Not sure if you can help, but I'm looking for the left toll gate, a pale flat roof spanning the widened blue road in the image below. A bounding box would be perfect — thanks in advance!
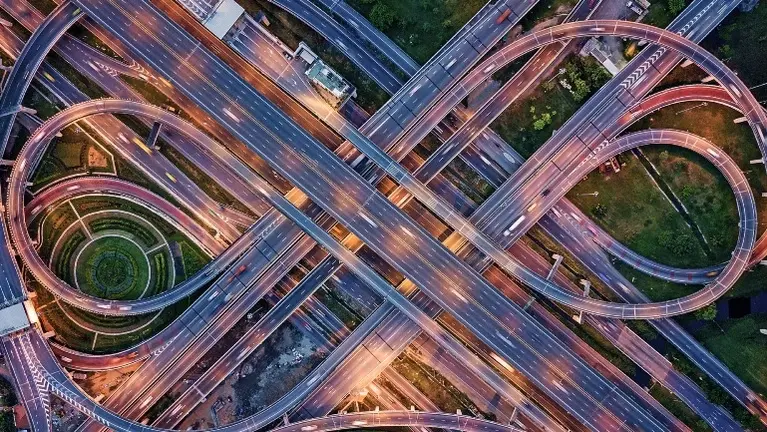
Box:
[0,288,45,350]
